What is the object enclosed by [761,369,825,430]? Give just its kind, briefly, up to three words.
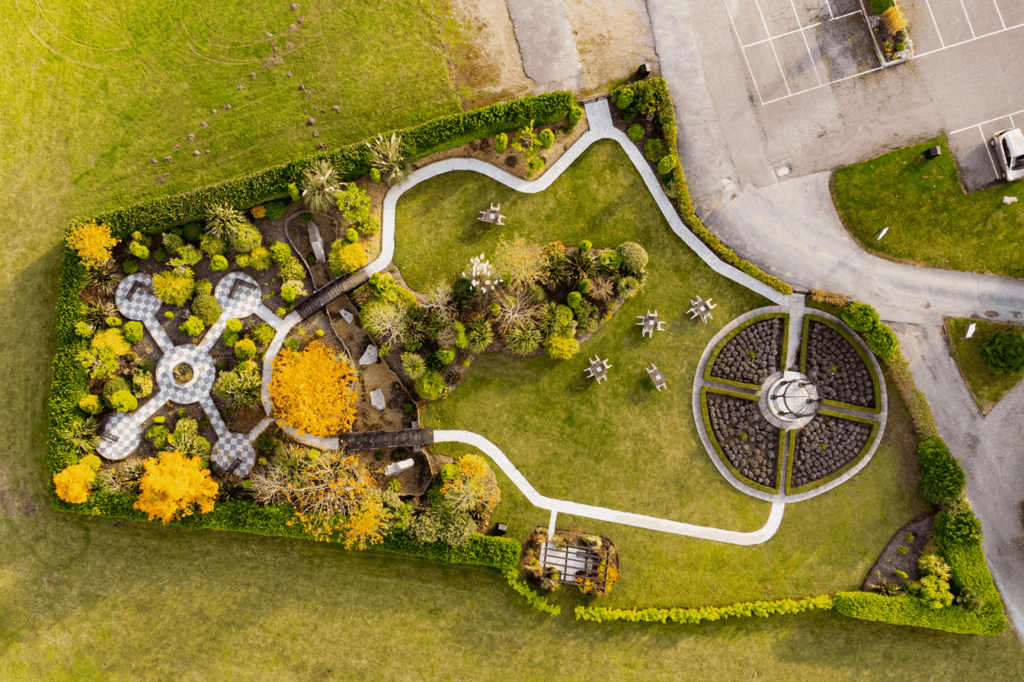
gazebo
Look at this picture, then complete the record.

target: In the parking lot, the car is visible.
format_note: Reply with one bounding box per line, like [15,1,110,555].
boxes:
[989,127,1024,180]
